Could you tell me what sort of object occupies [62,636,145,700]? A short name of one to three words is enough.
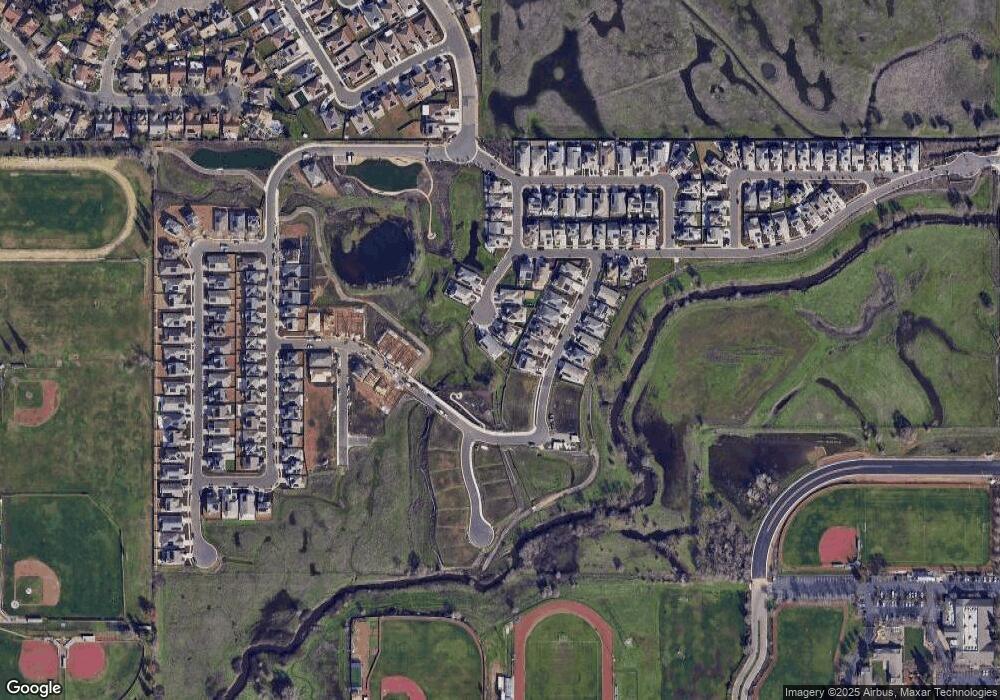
baseball field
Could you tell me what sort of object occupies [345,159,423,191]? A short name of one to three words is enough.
pond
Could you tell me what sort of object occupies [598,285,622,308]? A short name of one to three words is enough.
house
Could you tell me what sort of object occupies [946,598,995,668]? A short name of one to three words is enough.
building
